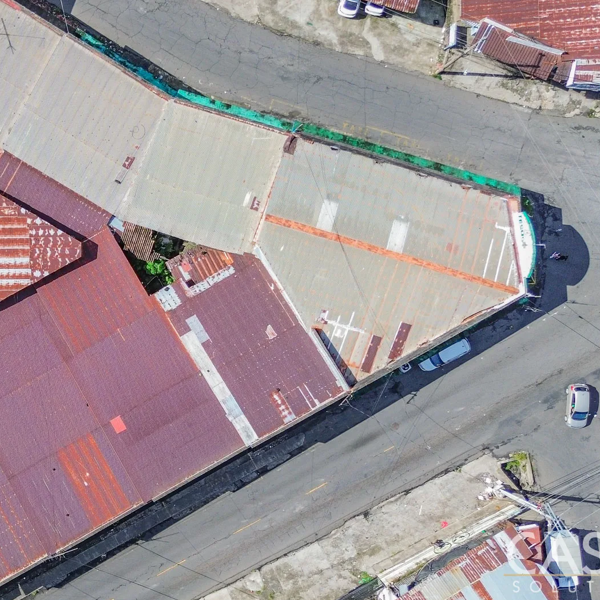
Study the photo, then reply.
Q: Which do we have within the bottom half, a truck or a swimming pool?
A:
truck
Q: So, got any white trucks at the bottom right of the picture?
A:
Yes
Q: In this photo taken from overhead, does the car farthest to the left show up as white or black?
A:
white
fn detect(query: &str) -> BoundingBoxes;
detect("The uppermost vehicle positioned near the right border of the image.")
[563,382,592,429]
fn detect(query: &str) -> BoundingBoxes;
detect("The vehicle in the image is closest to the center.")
[417,336,473,373]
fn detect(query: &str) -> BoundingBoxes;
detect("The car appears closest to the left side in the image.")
[334,0,360,22]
